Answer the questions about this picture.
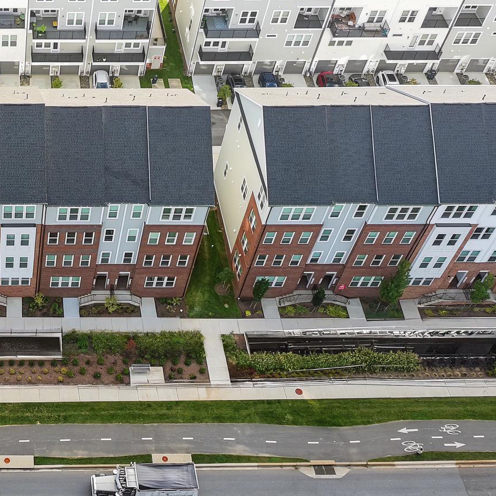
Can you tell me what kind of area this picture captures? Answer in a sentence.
What you see here is a residential area.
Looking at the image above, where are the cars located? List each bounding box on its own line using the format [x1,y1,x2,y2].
[225,73,243,98]
[373,69,398,84]
[257,69,280,84]
[91,69,110,86]
[316,72,338,84]
[350,73,372,84]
